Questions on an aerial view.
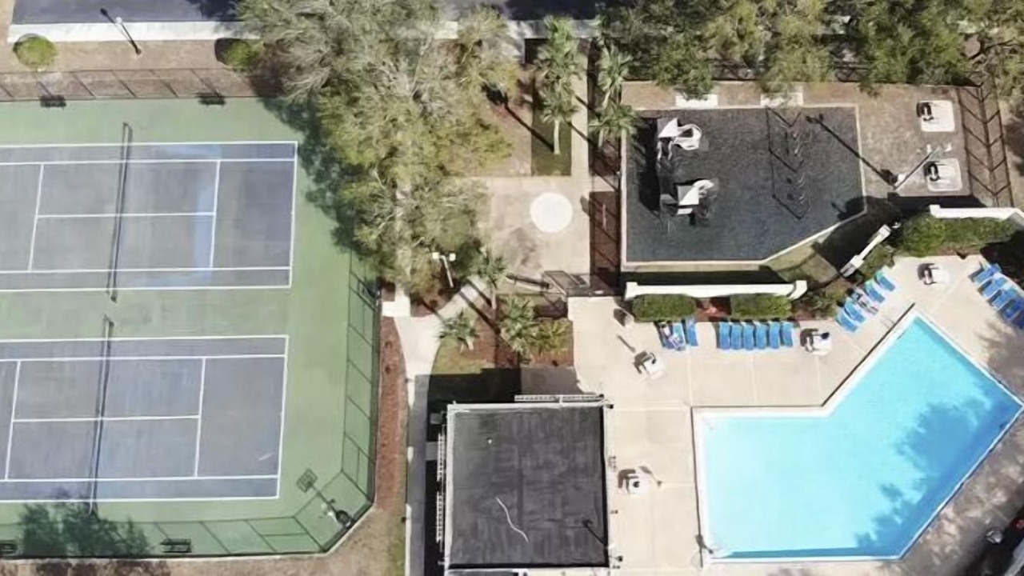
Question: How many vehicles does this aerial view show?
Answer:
none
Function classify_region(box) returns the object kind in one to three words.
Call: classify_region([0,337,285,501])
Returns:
tennis court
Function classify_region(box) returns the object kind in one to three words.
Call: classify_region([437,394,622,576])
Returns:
building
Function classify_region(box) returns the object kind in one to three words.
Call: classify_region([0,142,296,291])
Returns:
tennis court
